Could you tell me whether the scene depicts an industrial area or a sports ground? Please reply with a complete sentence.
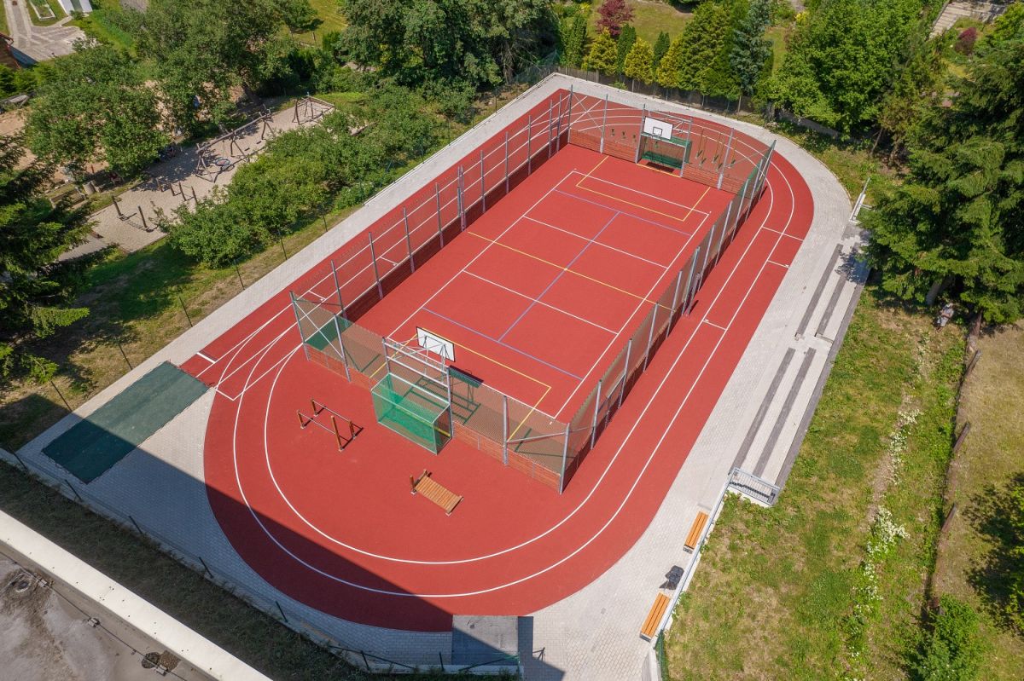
This looks like a sports ground.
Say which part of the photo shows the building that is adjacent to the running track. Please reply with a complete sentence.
You can find the building that is adjacent to the running track in the bottom left area of the picture.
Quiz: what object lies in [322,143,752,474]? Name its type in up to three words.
sports court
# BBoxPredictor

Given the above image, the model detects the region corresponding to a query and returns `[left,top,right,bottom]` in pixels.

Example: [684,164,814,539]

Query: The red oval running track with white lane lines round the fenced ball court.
[181,89,814,628]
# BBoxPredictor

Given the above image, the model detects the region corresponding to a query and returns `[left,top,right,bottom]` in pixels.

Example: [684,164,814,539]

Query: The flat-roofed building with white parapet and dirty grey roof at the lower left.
[0,512,269,681]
